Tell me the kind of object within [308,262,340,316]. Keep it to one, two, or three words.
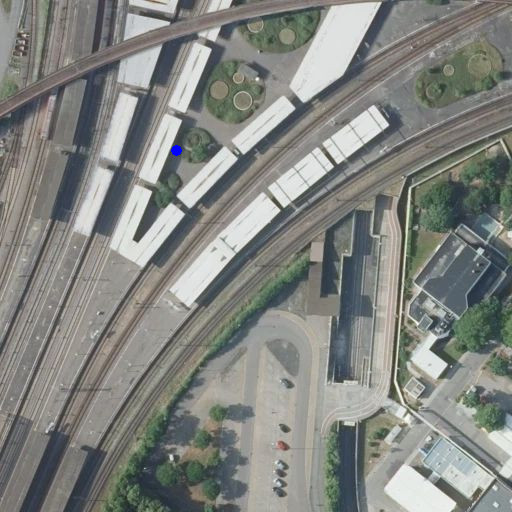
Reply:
building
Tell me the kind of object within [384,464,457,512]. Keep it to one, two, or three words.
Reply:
building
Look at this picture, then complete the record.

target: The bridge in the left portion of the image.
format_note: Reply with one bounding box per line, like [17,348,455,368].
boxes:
[0,0,360,116]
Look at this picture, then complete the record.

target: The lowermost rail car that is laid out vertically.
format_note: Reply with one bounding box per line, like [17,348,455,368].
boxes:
[42,84,62,140]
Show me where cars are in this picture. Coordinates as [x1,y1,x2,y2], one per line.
[274,468,286,478]
[274,478,286,487]
[275,441,286,450]
[14,51,26,57]
[276,460,288,468]
[16,39,28,45]
[16,45,28,51]
[280,378,292,387]
[279,424,290,432]
[18,32,30,38]
[274,488,285,496]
